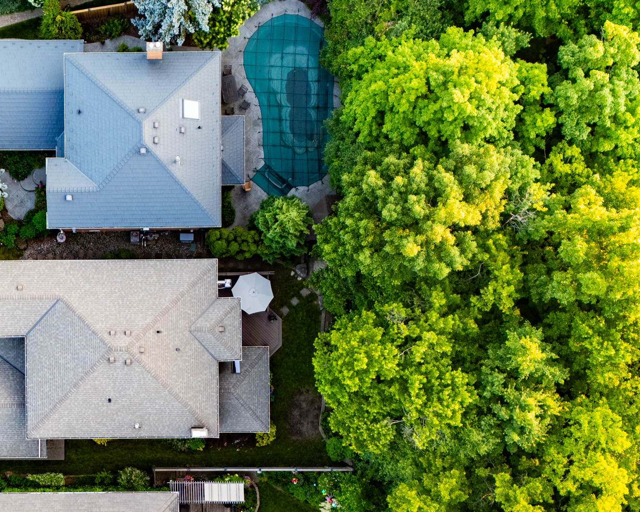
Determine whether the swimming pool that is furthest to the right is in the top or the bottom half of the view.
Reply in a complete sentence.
You can find the swimming pool that is furthest to the right in the top half.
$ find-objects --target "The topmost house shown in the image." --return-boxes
[0,38,247,238]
